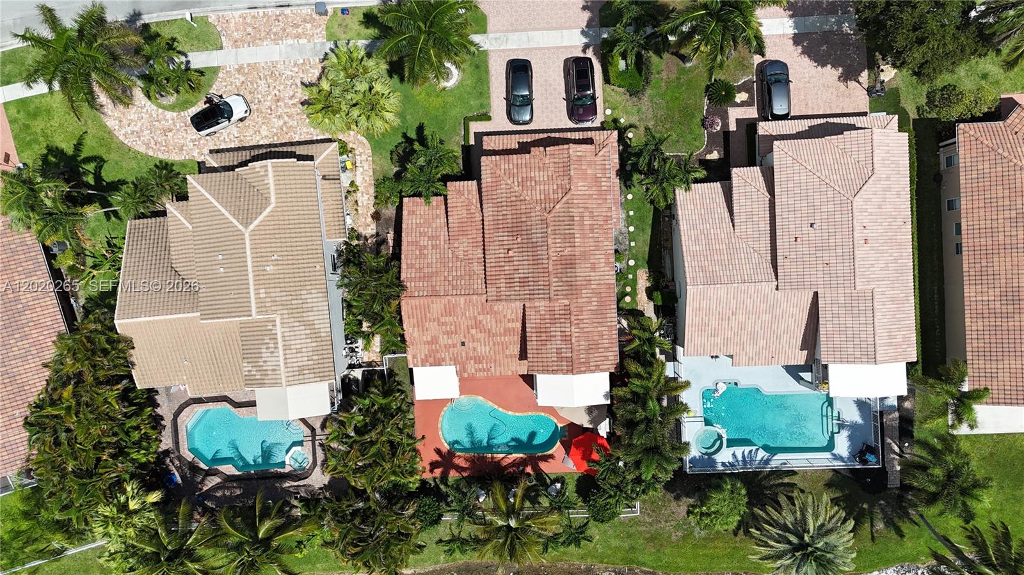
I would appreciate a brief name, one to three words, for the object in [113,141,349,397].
house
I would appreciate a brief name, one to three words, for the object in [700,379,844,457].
swimming pool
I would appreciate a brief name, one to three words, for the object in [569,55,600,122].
car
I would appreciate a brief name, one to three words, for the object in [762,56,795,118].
car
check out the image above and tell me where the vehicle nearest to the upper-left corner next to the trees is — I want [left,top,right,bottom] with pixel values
[187,90,249,135]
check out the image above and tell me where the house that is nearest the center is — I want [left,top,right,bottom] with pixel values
[401,128,621,378]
